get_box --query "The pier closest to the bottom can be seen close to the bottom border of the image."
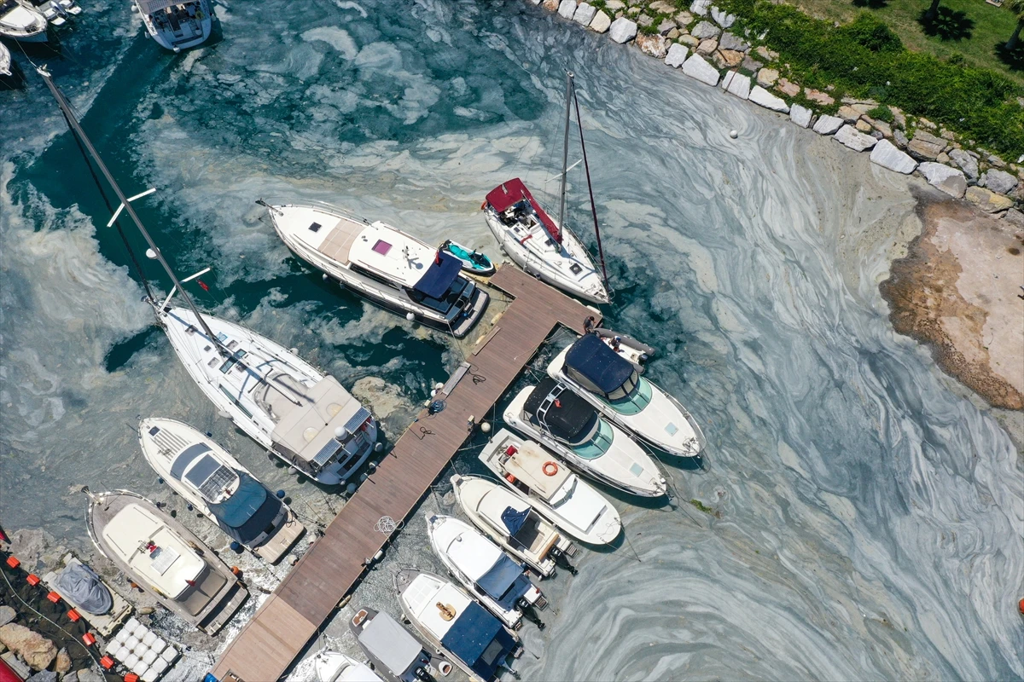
[104,616,181,682]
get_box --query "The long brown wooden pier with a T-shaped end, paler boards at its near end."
[207,261,603,682]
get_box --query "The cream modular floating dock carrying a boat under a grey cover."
[47,543,134,646]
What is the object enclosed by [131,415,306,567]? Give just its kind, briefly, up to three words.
boat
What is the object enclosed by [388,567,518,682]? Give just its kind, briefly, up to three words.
boat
